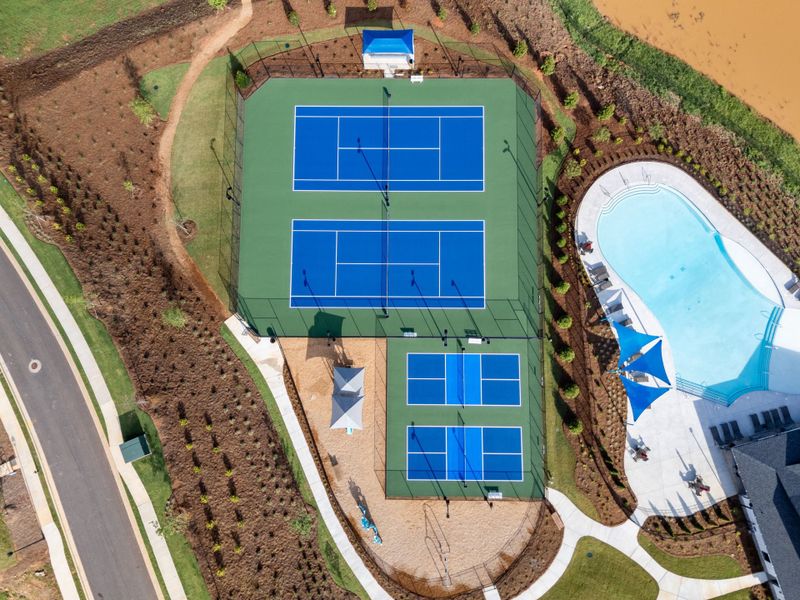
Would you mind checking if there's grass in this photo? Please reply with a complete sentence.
Yes, grass shows up in the scene.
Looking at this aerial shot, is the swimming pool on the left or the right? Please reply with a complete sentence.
The swimming pool appears in the right half of the scene.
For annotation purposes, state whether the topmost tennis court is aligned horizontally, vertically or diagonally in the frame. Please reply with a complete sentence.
The topmost tennis court has been laid out horizontally relative to the frame.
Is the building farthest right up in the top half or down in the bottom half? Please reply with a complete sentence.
You can find the building farthest right in the bottom half.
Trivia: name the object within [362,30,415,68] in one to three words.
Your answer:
building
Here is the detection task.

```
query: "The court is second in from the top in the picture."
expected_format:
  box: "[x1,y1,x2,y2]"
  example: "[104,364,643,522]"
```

[290,220,486,309]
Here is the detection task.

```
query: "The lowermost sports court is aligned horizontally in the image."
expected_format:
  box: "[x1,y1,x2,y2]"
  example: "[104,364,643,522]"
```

[408,427,522,480]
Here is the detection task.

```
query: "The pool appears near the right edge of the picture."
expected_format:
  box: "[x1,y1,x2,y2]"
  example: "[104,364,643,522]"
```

[596,183,800,407]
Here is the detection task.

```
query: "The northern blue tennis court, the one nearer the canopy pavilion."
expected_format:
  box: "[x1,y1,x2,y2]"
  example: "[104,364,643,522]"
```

[293,106,484,191]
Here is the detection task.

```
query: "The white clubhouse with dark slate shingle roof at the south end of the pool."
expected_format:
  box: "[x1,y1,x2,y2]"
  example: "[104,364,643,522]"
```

[723,423,800,600]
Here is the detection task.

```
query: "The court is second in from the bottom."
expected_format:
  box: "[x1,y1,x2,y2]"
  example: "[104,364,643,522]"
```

[407,353,520,405]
